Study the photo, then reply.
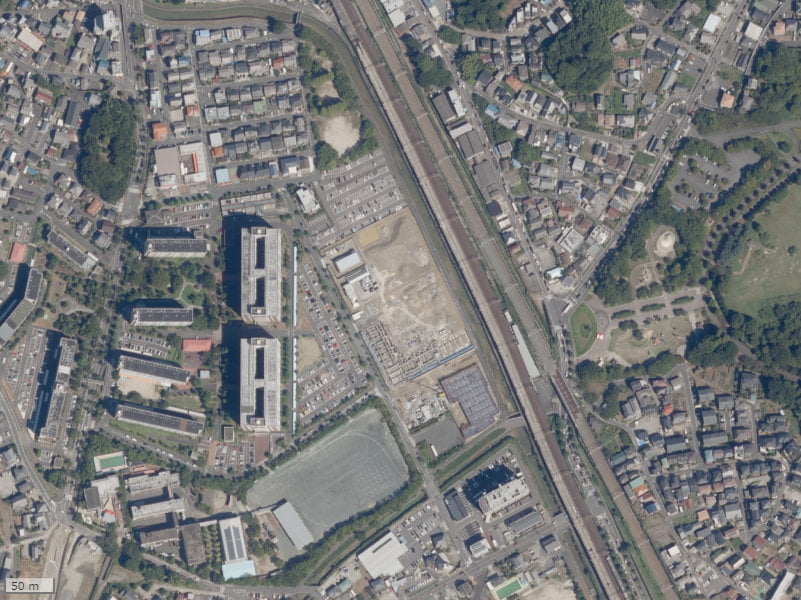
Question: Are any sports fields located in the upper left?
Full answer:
No, the scene shows no sports field in the upper left.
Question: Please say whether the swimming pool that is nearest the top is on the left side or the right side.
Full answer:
The swimming pool that is nearest the top is on the left side of the image.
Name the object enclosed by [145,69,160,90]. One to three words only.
house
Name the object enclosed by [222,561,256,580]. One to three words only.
building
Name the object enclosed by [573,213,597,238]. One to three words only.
house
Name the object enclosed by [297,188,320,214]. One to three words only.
building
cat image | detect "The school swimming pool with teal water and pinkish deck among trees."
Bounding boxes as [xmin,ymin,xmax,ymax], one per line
[95,451,128,472]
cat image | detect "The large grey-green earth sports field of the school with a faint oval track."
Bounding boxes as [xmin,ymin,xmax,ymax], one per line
[247,409,409,553]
